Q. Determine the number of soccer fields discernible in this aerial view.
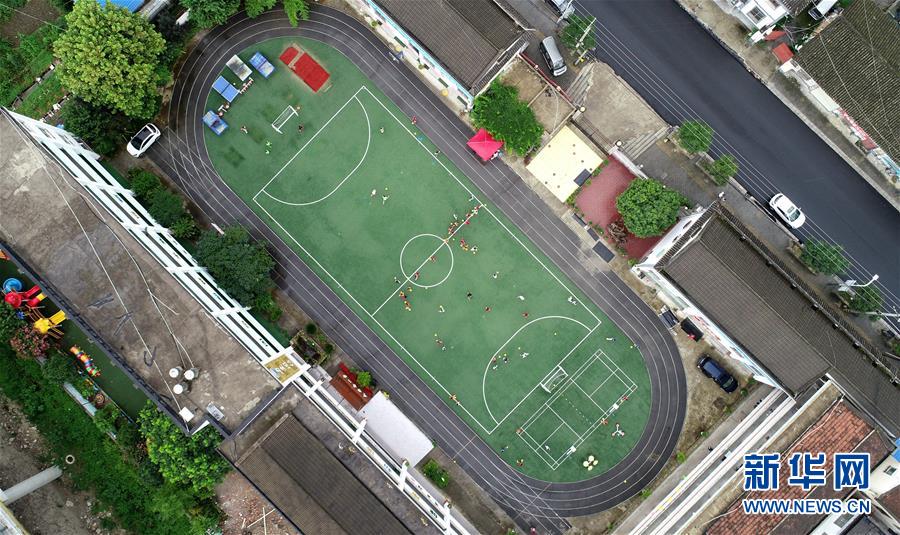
one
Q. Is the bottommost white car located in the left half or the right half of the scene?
right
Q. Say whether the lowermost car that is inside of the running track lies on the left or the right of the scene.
left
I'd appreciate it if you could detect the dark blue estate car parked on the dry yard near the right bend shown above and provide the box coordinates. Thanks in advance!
[695,354,736,392]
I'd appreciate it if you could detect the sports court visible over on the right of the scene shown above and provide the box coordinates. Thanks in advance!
[517,350,637,470]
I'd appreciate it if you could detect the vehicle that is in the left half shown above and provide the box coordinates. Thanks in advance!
[128,122,163,157]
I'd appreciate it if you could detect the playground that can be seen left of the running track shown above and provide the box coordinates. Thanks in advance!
[2,275,67,339]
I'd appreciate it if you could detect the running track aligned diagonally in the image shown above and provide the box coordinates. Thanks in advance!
[108,2,686,535]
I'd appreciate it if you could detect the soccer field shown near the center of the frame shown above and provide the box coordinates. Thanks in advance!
[204,37,651,484]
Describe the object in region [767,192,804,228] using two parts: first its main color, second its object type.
white car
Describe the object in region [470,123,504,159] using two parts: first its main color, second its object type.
red tent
